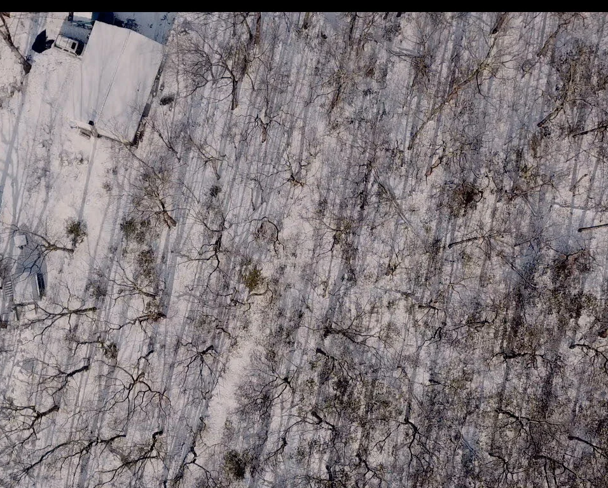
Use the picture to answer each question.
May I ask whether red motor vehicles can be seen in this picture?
No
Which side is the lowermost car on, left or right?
left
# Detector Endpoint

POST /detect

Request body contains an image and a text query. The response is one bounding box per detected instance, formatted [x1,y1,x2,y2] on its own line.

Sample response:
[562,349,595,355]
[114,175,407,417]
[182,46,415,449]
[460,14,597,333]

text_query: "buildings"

[8,273,37,305]
[61,20,169,143]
